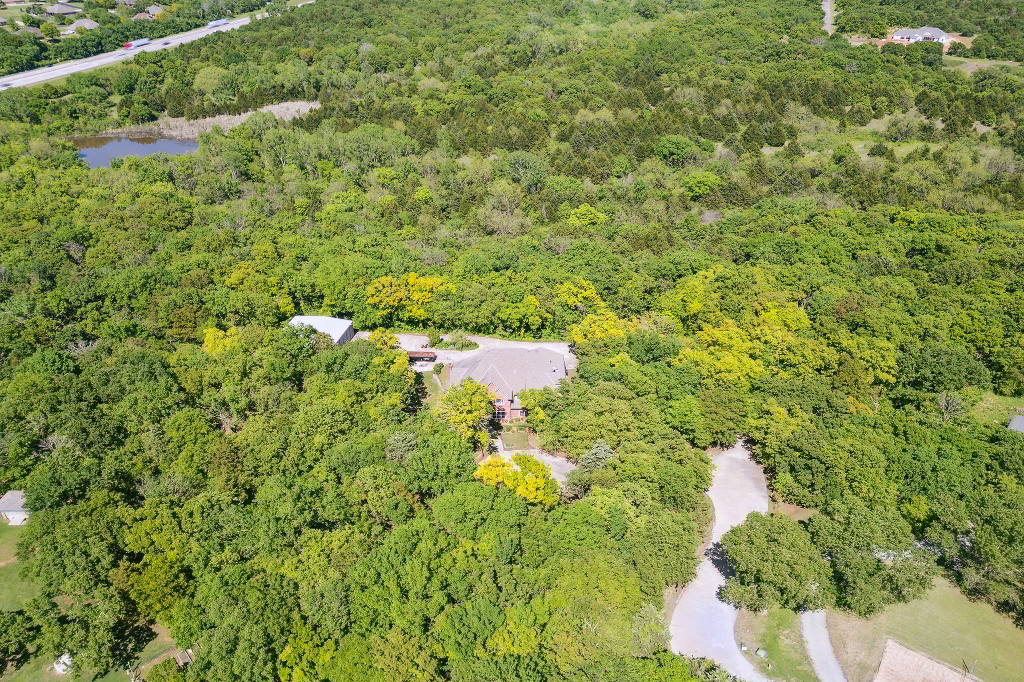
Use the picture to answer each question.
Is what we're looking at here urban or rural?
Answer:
rural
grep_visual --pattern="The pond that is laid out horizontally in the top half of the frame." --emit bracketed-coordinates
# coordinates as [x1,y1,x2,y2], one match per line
[66,135,198,167]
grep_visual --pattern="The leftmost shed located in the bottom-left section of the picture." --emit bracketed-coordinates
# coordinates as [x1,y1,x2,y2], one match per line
[0,489,36,530]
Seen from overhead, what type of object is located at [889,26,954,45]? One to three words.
house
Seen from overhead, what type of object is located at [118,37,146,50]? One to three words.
vehicle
